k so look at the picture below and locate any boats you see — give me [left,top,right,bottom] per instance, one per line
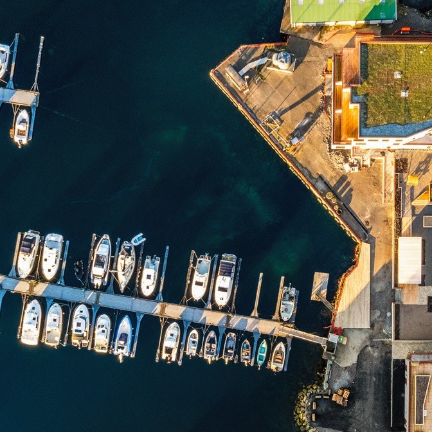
[214,251,241,311]
[218,329,235,364]
[17,293,42,349]
[112,242,134,297]
[186,322,200,358]
[44,297,64,350]
[90,235,111,294]
[70,298,91,352]
[91,310,113,353]
[267,335,289,375]
[40,230,63,284]
[257,333,271,367]
[159,319,182,365]
[14,227,41,281]
[203,323,220,364]
[114,311,135,363]
[238,336,255,364]
[280,281,297,322]
[0,42,10,78]
[14,105,30,148]
[141,251,161,297]
[188,250,214,306]
[74,254,84,279]
[133,232,148,245]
